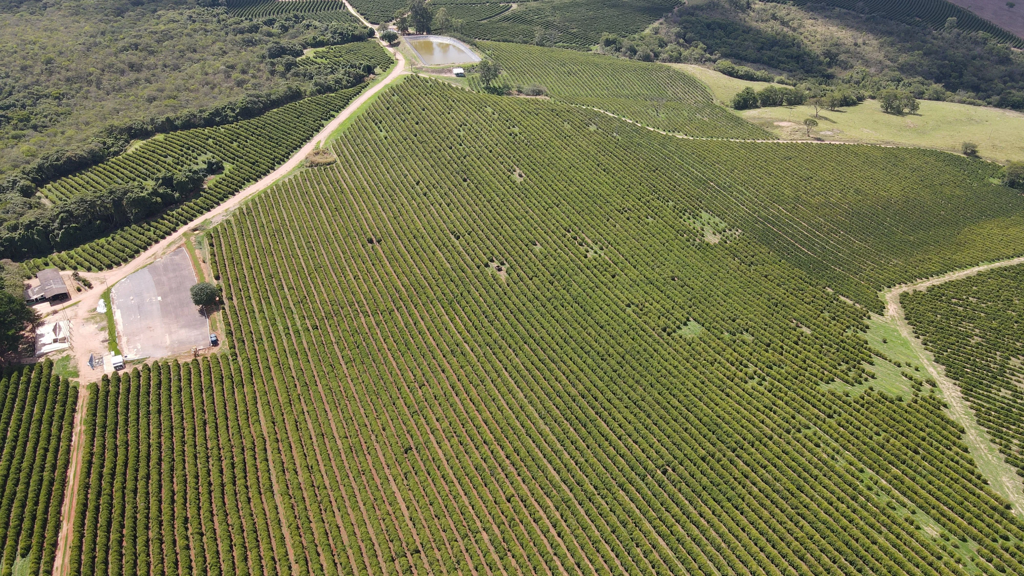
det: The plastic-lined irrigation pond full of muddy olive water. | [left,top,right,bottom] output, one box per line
[402,36,483,65]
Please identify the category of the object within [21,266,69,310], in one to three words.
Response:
barn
